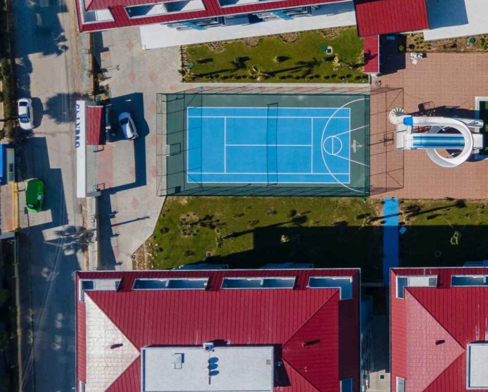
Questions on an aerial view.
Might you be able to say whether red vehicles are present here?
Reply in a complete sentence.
No, I can see no red vehicle in this picture.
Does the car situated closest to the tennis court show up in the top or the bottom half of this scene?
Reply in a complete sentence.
You can find the car situated closest to the tennis court in the top half.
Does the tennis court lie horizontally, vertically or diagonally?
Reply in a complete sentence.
In this picture, the tennis court is oriented horizontally.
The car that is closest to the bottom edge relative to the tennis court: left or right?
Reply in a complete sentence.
From the viewer's perspective, the car that is closest to the bottom edge falls to the left of the tennis court.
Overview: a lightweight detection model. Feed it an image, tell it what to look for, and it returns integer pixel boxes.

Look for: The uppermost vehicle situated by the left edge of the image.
[17,97,36,130]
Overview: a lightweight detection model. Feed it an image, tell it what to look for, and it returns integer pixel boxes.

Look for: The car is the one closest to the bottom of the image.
[26,178,47,213]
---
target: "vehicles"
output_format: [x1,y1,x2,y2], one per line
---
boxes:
[17,97,36,130]
[26,178,47,213]
[119,110,139,142]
